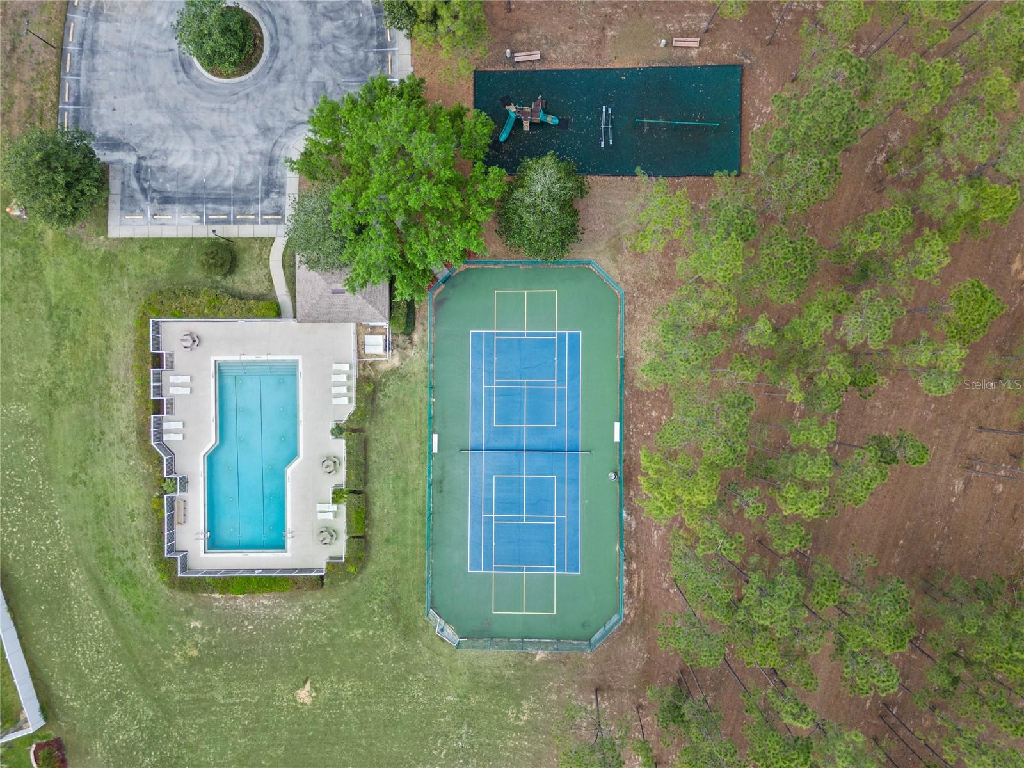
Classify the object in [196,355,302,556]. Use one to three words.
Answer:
swimming pool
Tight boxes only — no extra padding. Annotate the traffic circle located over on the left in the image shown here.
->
[181,0,268,82]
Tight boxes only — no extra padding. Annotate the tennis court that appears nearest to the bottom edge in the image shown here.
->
[432,267,618,639]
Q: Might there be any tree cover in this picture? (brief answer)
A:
Yes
